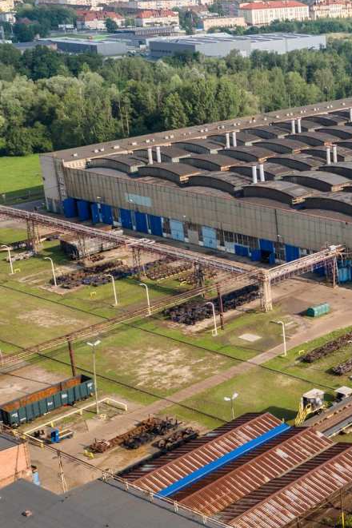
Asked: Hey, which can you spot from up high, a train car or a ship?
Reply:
train car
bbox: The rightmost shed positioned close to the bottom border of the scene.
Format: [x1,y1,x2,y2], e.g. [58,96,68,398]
[114,409,352,528]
